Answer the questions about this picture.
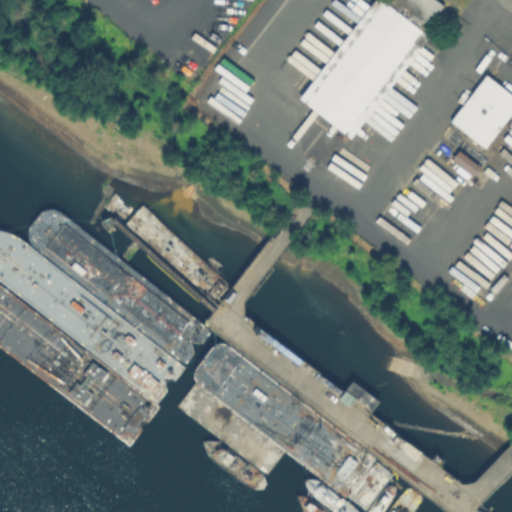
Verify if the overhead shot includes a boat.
Yes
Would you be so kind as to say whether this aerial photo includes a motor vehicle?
Yes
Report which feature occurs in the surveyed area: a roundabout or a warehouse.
warehouse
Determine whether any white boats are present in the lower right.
Yes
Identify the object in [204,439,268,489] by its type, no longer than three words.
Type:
boat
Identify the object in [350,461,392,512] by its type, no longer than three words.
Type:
ship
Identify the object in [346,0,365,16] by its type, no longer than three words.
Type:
vehicle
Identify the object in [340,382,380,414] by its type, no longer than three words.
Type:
shed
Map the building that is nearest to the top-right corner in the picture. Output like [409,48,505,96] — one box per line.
[452,74,512,148]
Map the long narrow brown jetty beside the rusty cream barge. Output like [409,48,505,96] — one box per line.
[116,220,216,308]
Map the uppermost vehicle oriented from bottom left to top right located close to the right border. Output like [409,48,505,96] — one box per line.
[478,50,496,74]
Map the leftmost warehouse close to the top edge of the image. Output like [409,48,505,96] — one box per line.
[301,0,426,131]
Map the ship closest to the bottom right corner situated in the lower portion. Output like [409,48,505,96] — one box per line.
[389,487,423,512]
